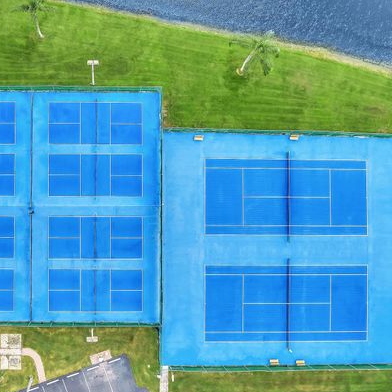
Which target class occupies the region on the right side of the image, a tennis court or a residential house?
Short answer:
tennis court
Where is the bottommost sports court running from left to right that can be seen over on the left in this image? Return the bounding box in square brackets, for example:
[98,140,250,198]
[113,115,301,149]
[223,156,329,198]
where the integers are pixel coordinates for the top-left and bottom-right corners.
[48,269,143,313]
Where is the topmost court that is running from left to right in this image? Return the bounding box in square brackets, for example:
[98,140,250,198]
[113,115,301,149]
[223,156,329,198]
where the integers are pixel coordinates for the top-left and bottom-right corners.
[49,102,143,145]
